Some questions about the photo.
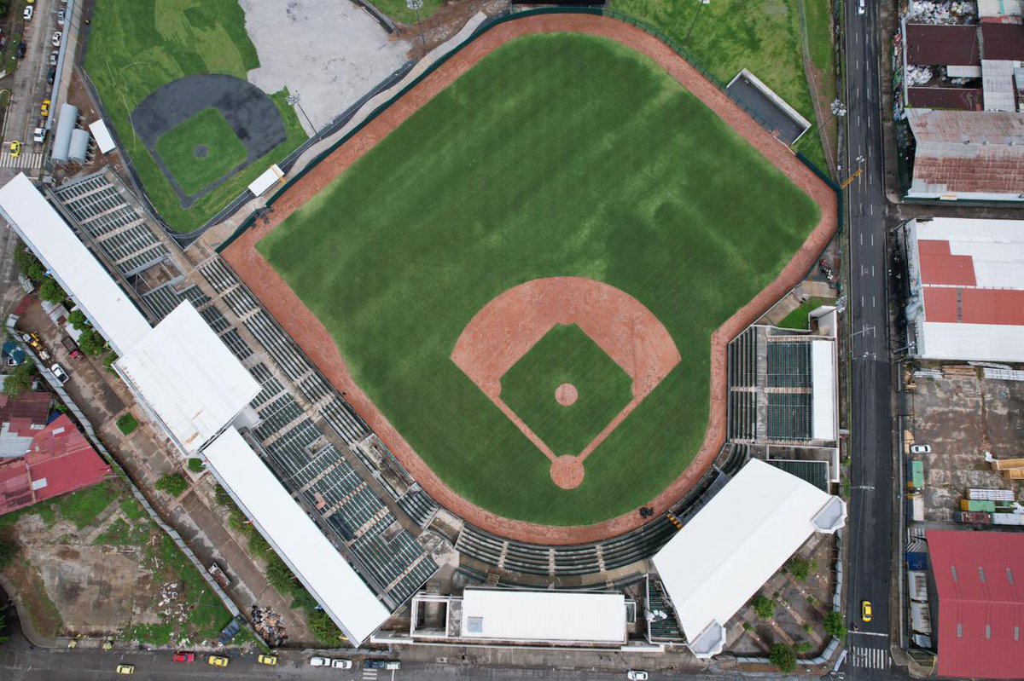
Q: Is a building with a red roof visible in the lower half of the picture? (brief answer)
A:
Yes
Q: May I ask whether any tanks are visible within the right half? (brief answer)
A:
No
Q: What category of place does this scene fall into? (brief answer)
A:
sports ground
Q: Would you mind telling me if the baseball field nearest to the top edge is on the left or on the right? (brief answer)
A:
left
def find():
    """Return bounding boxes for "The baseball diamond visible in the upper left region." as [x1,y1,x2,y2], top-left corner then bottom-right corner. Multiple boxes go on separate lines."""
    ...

[81,0,414,239]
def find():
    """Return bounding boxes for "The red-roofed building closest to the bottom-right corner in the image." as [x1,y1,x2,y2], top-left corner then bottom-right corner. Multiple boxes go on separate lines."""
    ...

[915,524,1024,680]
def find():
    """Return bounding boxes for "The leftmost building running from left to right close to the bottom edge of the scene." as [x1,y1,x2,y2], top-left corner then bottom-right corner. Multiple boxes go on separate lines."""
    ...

[407,587,630,652]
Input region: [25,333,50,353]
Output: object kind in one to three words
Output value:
work vehicle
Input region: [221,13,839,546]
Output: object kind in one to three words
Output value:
baseball field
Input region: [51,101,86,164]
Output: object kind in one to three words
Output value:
storage tank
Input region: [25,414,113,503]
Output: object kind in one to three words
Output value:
house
